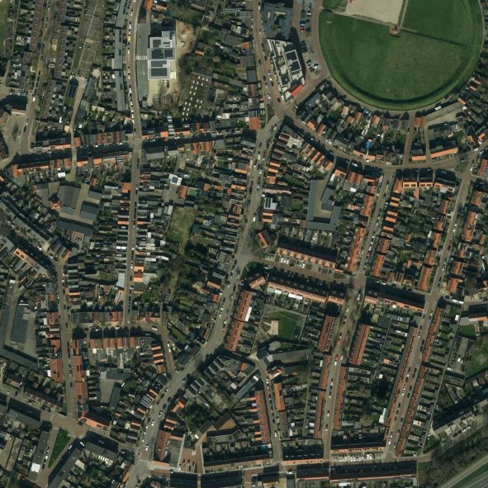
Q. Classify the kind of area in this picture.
residential area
